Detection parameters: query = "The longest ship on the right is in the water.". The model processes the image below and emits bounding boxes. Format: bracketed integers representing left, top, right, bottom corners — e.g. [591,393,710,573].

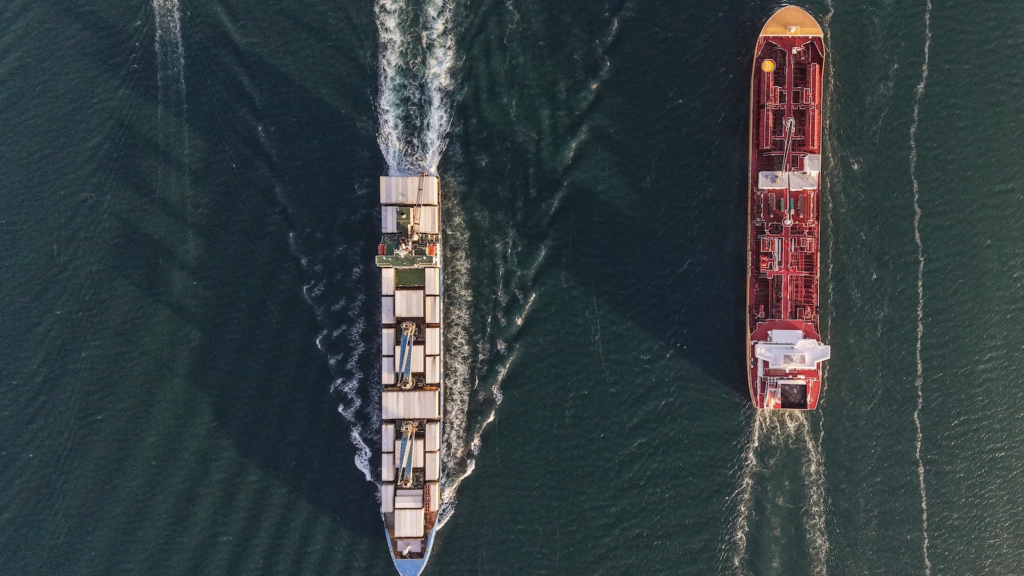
[745,4,831,410]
